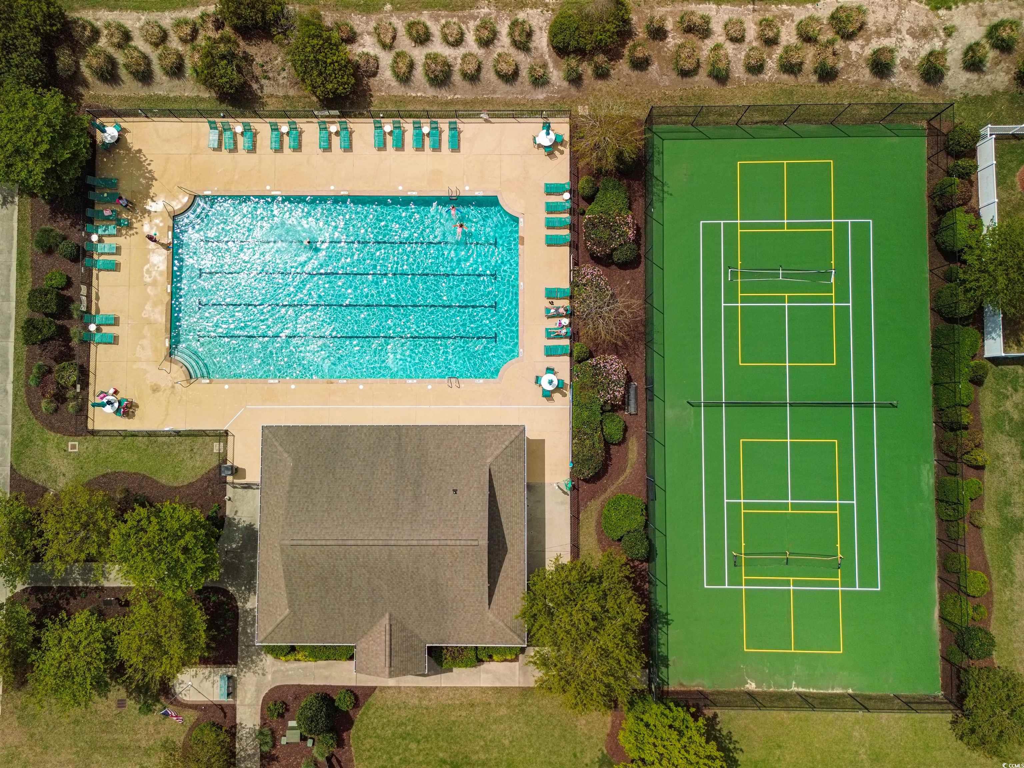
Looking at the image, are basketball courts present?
No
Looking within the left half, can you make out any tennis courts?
No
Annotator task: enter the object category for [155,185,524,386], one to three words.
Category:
swimming pool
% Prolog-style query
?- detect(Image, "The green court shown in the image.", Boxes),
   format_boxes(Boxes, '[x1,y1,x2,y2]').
[645,123,941,694]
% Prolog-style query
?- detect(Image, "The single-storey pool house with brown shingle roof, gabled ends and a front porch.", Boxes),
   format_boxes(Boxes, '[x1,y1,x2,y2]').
[254,422,528,680]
